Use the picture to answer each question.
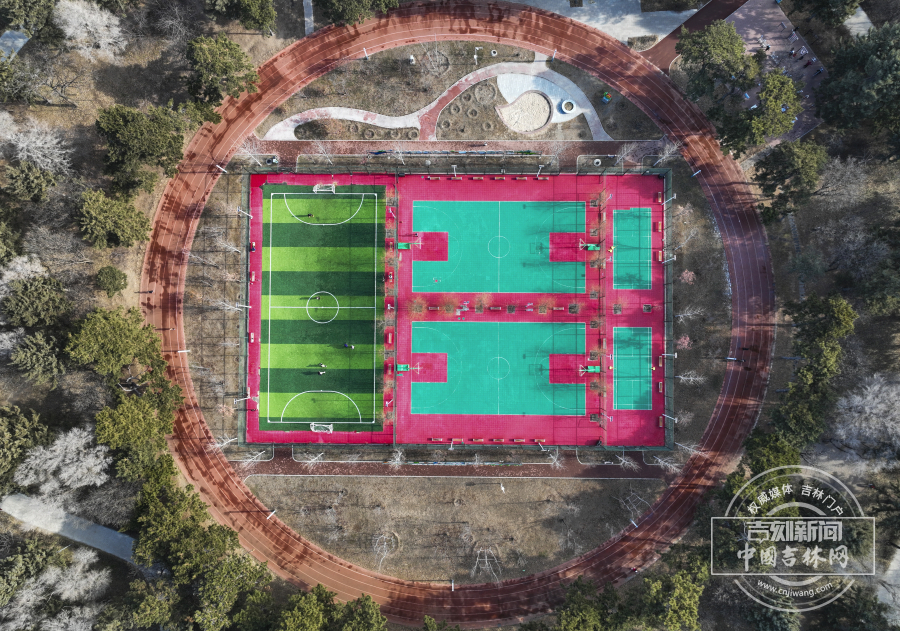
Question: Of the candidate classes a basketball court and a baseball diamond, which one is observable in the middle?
basketball court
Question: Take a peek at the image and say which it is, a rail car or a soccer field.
soccer field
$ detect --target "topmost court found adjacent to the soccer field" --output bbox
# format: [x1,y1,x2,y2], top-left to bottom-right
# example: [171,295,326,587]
[412,200,587,294]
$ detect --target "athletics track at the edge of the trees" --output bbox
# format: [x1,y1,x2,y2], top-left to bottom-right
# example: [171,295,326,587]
[142,0,773,627]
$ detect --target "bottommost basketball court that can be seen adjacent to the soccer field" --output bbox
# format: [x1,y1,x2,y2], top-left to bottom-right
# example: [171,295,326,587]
[410,322,586,416]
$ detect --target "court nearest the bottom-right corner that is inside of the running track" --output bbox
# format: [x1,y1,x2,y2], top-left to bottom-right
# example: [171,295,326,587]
[613,328,652,410]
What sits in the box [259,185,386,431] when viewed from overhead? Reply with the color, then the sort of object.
green soccer field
